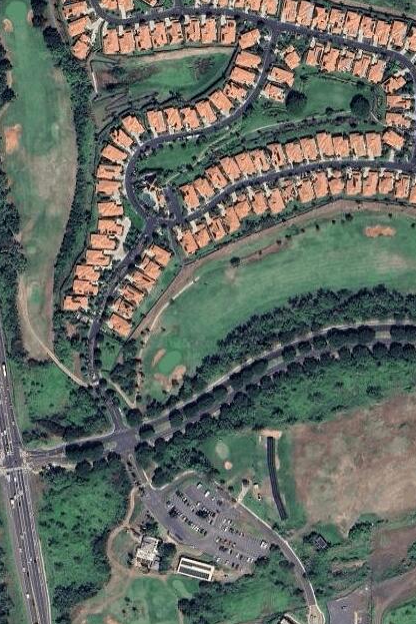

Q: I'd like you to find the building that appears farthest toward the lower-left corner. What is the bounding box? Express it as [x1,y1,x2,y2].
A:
[136,536,159,568]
